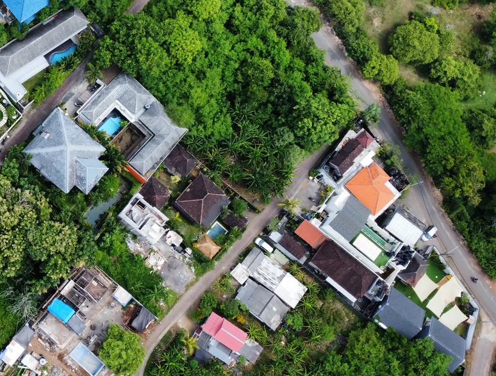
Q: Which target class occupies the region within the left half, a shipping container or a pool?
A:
pool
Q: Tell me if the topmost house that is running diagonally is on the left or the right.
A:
left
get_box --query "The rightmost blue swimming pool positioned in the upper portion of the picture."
[96,112,123,137]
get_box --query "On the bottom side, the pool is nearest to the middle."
[205,221,228,241]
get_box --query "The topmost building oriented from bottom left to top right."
[0,7,90,100]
